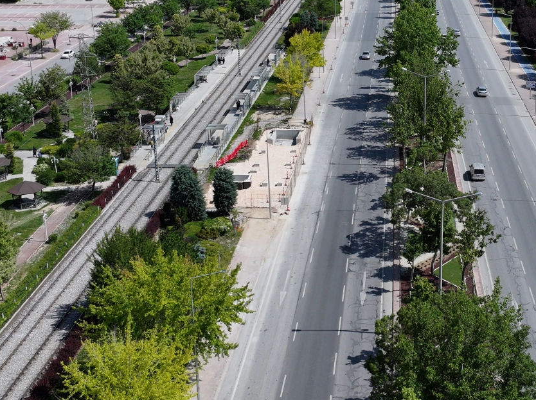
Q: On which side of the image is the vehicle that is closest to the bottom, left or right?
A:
right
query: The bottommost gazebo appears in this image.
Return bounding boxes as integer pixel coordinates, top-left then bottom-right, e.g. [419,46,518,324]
[1,175,48,209]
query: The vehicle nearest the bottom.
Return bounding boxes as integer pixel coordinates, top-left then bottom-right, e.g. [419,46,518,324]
[466,158,487,182]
